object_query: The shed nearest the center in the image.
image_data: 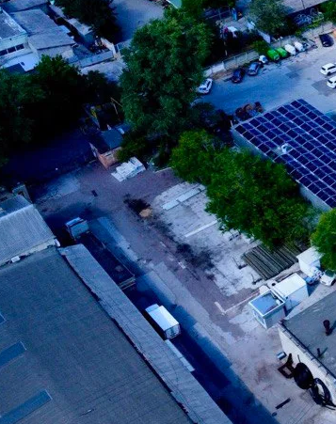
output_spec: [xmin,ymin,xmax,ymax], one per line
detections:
[89,132,135,179]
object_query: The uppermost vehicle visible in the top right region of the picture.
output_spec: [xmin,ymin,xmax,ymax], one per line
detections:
[318,31,335,49]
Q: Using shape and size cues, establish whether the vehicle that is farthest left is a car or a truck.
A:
truck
